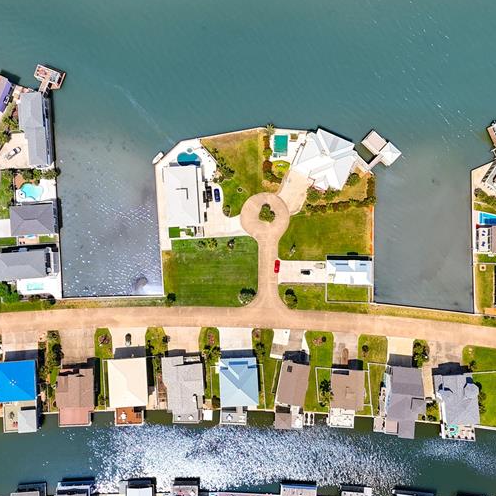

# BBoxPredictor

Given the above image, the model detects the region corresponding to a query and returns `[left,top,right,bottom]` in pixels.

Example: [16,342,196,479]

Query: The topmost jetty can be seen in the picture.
[33,64,67,94]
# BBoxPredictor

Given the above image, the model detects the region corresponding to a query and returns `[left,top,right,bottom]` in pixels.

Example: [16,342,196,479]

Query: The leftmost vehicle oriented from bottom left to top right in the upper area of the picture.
[6,147,22,160]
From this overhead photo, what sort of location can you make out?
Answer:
residential area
